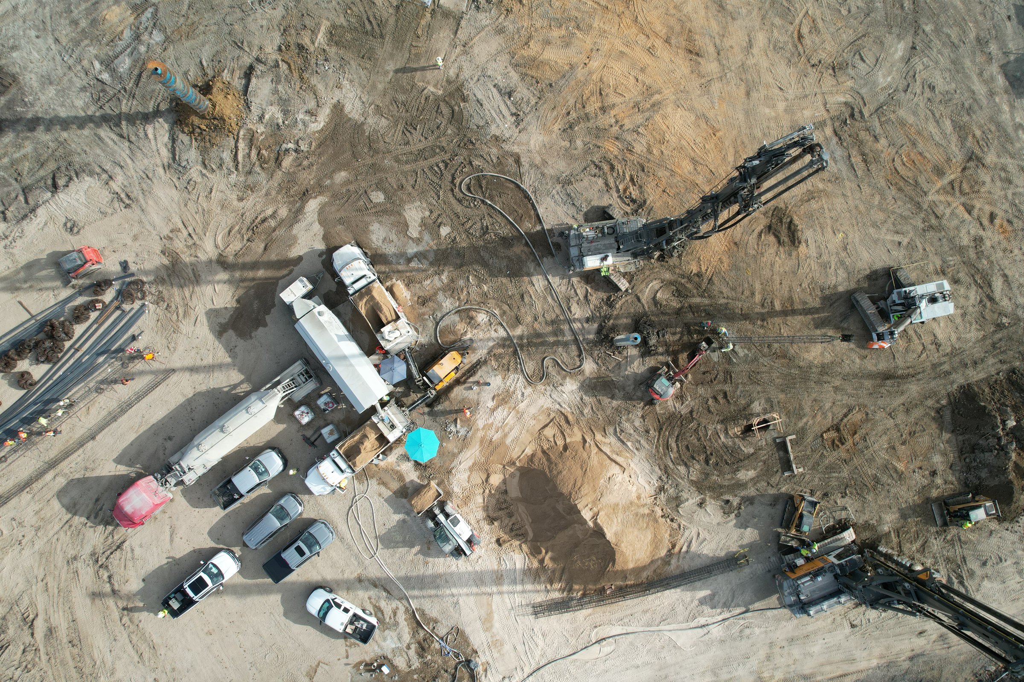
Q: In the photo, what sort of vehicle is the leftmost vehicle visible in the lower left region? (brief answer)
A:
truck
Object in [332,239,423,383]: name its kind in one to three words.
truck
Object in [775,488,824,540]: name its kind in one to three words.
work vehicle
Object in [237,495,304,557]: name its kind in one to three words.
car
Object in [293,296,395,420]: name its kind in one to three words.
trailer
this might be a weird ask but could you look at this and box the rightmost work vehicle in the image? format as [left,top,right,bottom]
[934,489,1003,526]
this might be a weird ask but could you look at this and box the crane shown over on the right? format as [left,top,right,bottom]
[847,261,953,350]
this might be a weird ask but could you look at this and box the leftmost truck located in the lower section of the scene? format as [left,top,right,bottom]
[110,464,190,533]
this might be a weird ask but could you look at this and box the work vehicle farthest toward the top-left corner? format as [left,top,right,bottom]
[56,240,111,289]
